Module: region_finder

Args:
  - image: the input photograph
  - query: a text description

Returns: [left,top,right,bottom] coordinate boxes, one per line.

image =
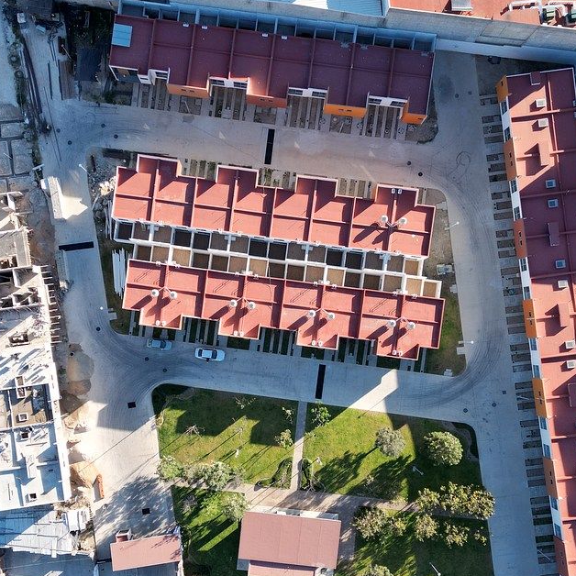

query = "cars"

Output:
[196,347,226,361]
[147,337,173,351]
